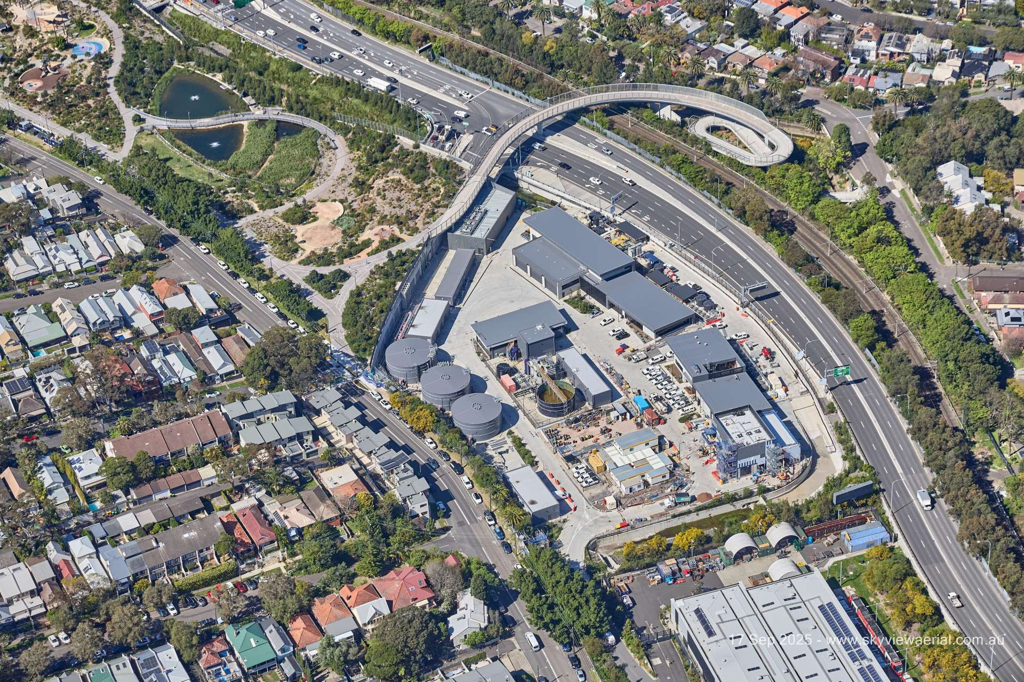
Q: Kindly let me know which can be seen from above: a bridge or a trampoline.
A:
bridge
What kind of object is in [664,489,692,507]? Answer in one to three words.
vehicle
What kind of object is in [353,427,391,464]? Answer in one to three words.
house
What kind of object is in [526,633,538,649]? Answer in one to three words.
vehicle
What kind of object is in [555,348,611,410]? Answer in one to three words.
shed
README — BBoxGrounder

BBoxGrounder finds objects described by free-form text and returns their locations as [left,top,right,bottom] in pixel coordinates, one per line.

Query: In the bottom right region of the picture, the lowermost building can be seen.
[673,569,882,682]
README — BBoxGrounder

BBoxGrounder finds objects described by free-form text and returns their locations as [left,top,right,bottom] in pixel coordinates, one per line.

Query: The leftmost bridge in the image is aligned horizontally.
[122,106,339,140]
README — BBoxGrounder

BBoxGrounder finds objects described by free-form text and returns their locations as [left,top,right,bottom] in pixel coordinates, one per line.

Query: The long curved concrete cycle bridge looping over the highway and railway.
[415,84,795,237]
